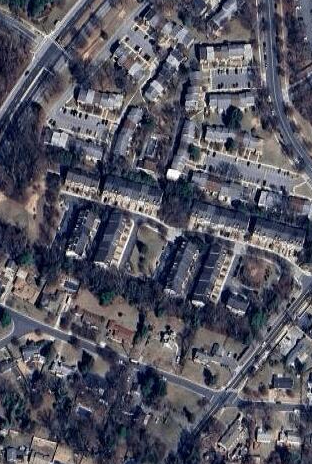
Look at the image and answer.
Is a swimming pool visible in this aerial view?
No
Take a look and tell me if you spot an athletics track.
No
